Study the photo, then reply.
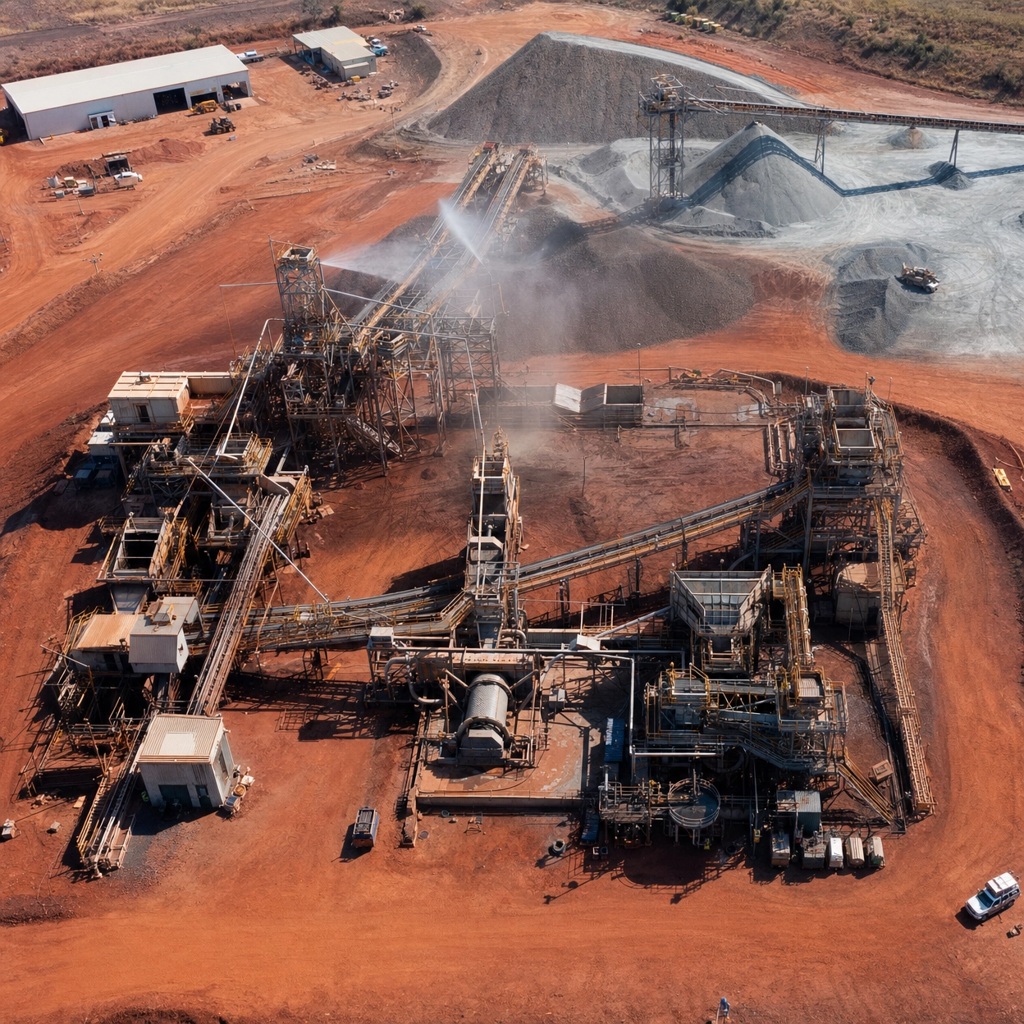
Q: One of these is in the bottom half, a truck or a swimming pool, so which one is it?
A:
truck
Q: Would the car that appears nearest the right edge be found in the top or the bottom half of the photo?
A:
bottom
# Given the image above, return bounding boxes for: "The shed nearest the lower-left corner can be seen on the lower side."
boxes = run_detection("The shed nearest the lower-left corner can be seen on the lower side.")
[135,711,243,807]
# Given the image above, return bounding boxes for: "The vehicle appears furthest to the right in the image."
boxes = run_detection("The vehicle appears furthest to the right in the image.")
[964,873,1024,921]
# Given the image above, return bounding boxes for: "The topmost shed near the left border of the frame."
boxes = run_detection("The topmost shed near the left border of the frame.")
[0,53,273,139]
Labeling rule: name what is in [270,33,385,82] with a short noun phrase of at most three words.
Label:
shed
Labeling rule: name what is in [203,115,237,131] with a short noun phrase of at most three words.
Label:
work vehicle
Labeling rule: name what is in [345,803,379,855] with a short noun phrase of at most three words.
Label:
truck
